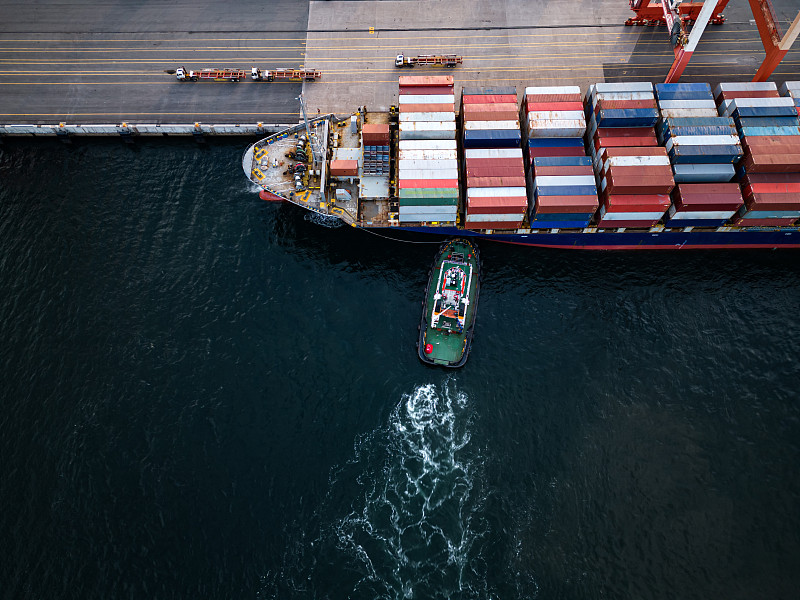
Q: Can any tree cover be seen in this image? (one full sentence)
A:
No, the scene doesn't show any tree cover.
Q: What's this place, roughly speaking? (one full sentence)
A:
The area seen from above is a port.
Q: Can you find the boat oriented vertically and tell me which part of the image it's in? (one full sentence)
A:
Look in the center portion of the view to spot the boat oriented vertically.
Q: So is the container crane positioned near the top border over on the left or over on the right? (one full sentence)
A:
The container crane positioned near the top border sits on the right side.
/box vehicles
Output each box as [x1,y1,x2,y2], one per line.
[395,52,464,69]
[248,66,320,82]
[173,66,245,82]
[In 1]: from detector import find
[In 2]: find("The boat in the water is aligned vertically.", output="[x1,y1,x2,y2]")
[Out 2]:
[416,237,481,371]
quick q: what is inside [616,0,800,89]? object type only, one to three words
container crane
